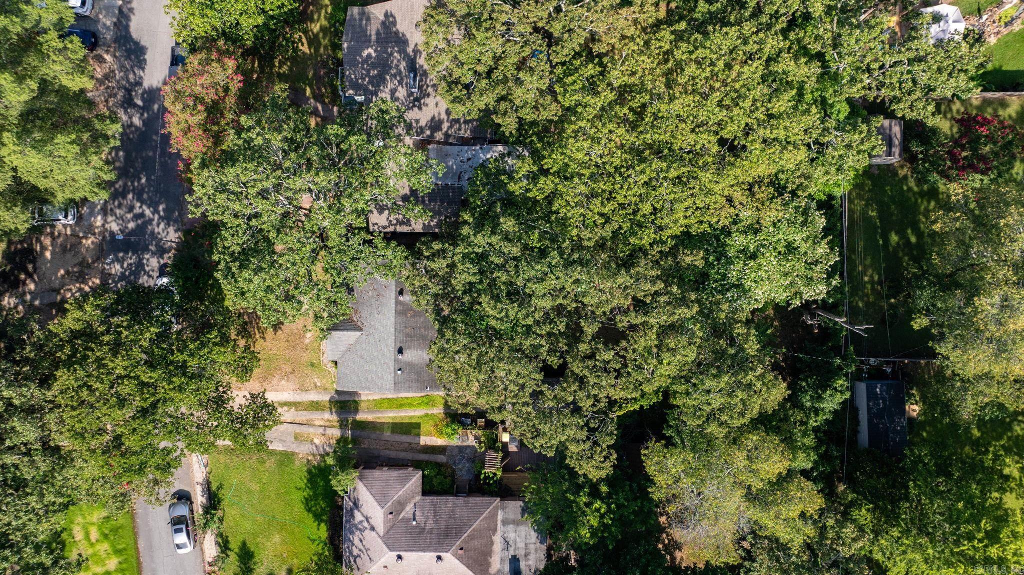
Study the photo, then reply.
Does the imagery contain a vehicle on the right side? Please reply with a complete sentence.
No, no vehicle appears on the right side.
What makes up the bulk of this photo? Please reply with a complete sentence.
What you mostly see from above here is trees.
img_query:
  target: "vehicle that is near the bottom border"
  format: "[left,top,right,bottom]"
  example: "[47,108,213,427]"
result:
[162,497,193,554]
